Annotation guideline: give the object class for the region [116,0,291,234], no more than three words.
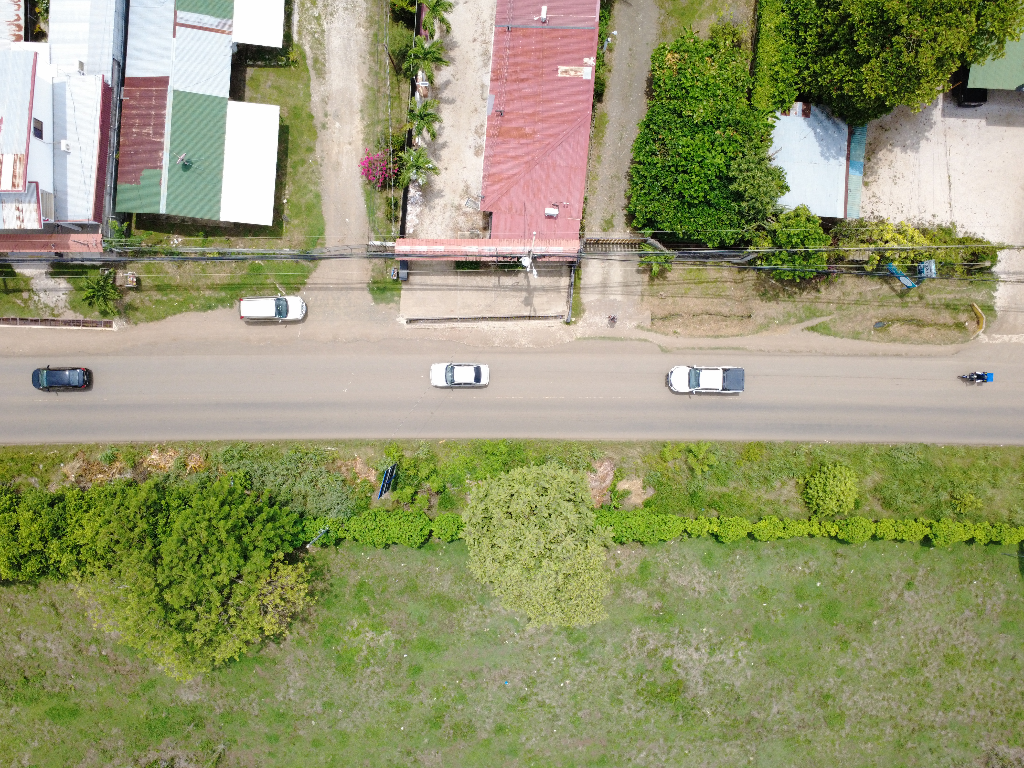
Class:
building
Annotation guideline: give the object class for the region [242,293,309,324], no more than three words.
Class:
van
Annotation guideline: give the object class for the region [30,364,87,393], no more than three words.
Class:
car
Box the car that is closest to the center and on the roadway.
[429,361,490,389]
